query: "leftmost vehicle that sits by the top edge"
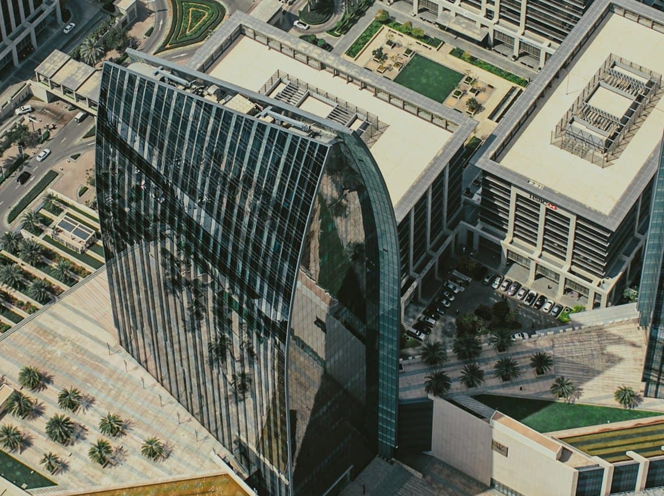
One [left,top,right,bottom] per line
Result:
[62,21,76,35]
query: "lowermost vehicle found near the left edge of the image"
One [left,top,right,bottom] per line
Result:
[15,169,32,186]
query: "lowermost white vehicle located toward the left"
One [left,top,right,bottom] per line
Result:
[35,148,51,163]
